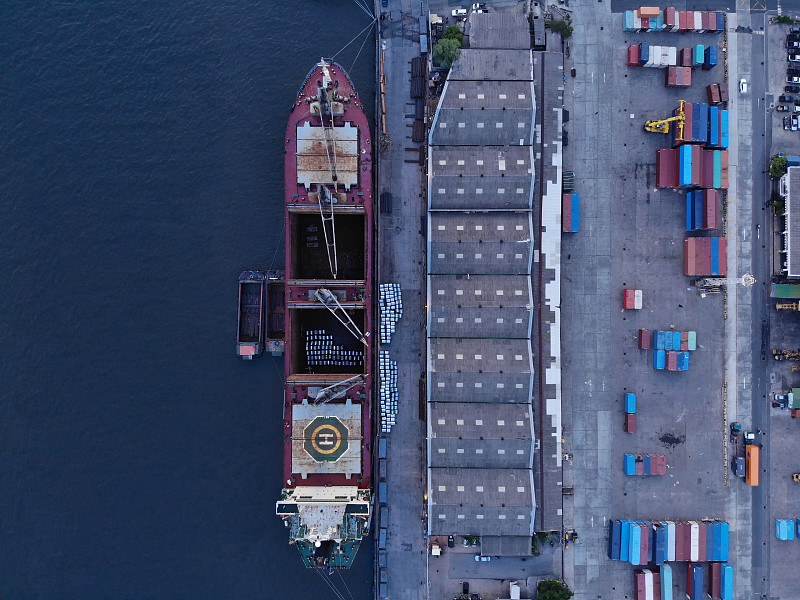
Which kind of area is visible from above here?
port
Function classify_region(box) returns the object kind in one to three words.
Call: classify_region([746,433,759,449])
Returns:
vehicle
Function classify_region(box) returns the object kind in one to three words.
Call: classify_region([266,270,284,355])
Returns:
ship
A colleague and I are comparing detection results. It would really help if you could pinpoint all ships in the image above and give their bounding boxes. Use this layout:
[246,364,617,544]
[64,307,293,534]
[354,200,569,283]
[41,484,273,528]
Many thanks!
[237,270,264,358]
[276,56,374,577]
[266,270,284,355]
